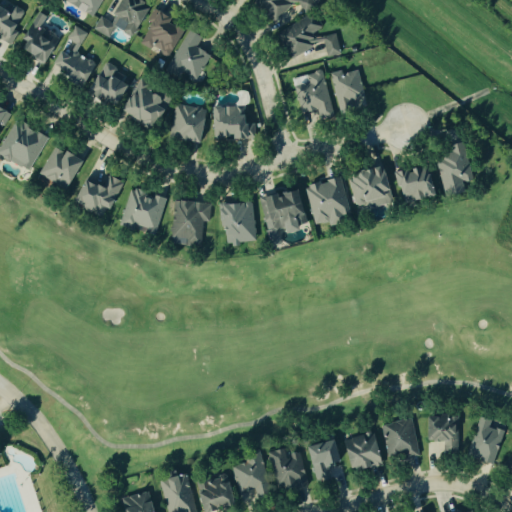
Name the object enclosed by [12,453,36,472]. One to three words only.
swimming pool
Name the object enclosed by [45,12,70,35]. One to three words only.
swimming pool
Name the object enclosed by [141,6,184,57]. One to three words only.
house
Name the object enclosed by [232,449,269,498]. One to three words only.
house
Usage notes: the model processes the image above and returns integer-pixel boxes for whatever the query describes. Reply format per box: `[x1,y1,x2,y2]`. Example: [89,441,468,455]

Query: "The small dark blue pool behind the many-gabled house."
[370,204,390,222]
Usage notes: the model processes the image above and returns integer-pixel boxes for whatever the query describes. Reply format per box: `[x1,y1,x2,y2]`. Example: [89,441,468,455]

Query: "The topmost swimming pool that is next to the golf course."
[0,160,34,180]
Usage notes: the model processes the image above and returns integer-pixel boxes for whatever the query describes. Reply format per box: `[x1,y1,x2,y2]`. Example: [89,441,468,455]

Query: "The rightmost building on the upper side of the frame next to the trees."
[438,142,474,196]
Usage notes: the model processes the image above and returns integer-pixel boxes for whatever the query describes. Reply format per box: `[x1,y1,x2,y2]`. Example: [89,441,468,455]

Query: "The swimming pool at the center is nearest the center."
[276,220,312,248]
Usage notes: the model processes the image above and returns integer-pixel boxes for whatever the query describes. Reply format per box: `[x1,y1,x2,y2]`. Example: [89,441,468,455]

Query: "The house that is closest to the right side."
[474,416,507,466]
